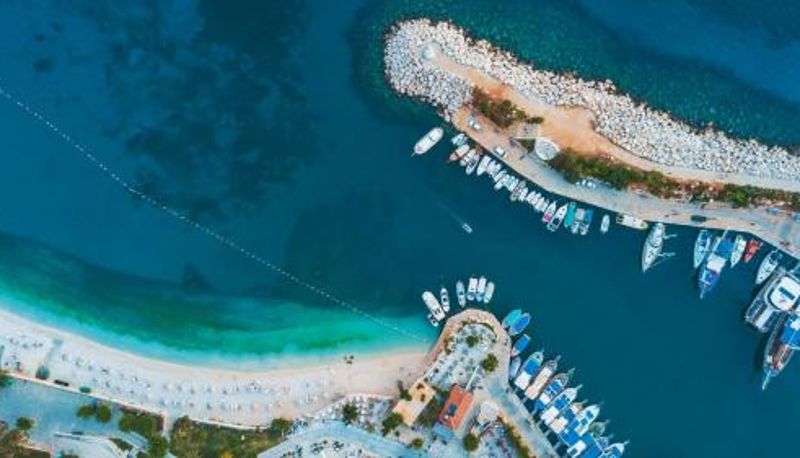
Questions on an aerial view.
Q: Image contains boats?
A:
Yes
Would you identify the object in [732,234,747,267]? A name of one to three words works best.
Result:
boat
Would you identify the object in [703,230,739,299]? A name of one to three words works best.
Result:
boat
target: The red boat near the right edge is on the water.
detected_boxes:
[746,239,760,262]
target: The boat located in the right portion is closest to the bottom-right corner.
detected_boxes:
[769,307,800,388]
